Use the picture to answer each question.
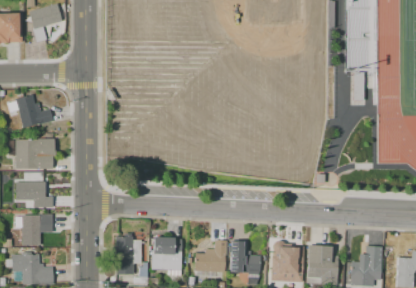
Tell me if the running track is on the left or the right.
right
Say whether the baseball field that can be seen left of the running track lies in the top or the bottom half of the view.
top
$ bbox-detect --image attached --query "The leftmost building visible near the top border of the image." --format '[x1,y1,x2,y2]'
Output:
[0,12,22,43]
